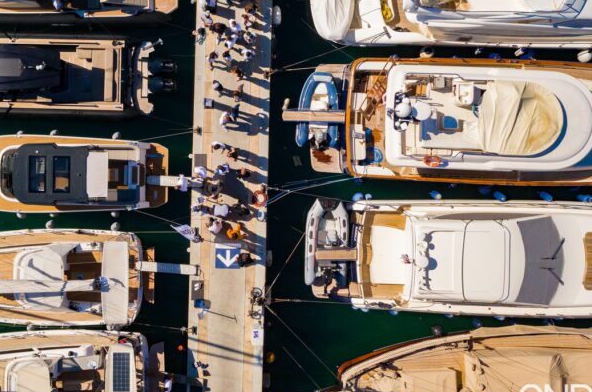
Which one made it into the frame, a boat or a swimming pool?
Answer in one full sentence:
This aerial view contains a boat.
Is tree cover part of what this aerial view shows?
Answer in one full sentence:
No, the picture contains no tree cover.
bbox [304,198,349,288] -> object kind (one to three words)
boat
